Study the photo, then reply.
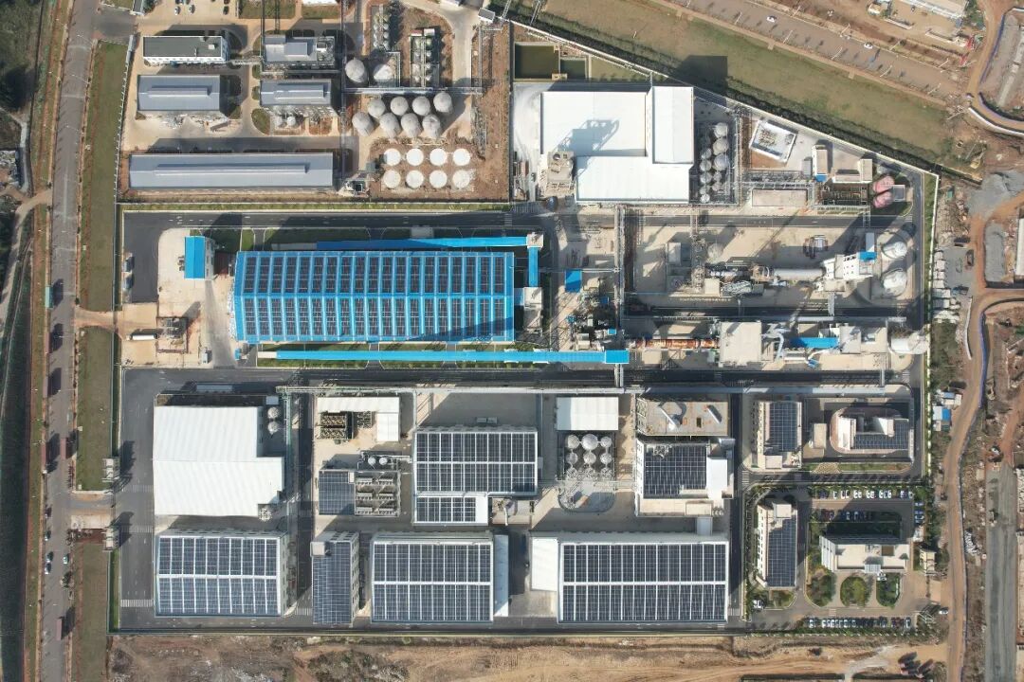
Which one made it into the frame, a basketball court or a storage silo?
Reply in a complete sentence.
Looking from above, you can make out a storage silo.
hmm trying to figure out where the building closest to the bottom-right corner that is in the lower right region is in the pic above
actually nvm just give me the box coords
[913,547,934,572]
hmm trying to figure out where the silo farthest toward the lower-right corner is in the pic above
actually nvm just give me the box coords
[889,336,927,356]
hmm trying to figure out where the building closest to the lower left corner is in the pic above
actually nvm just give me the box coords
[103,524,122,550]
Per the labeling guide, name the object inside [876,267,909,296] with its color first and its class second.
white silo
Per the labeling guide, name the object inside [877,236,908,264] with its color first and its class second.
white silo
